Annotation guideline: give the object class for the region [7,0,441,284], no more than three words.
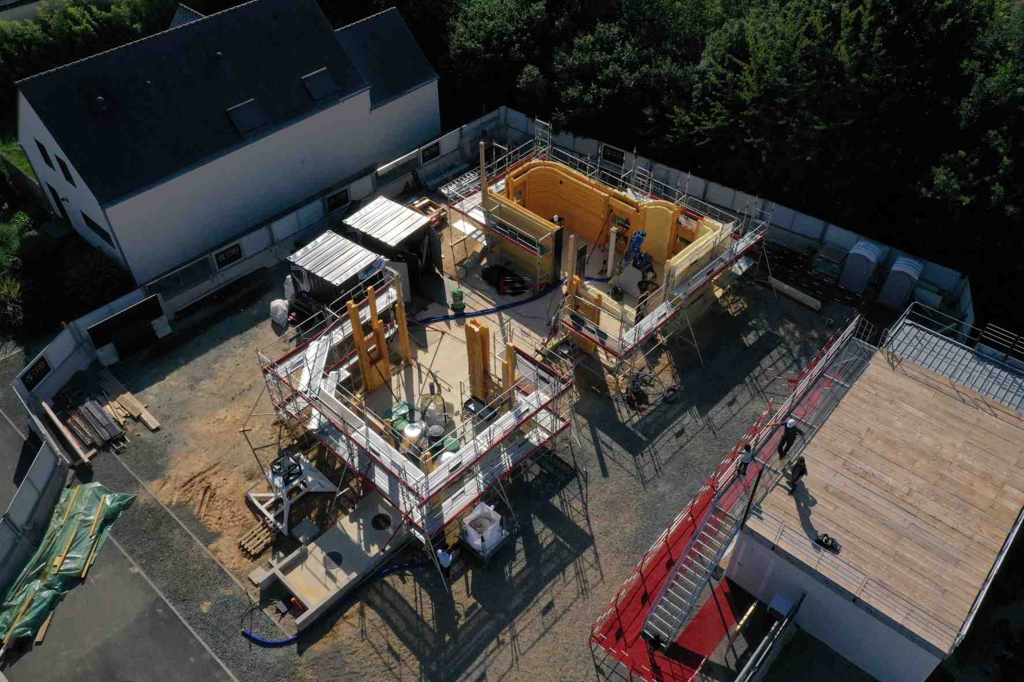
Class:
house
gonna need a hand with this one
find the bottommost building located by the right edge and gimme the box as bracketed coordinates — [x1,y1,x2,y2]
[731,300,1024,682]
